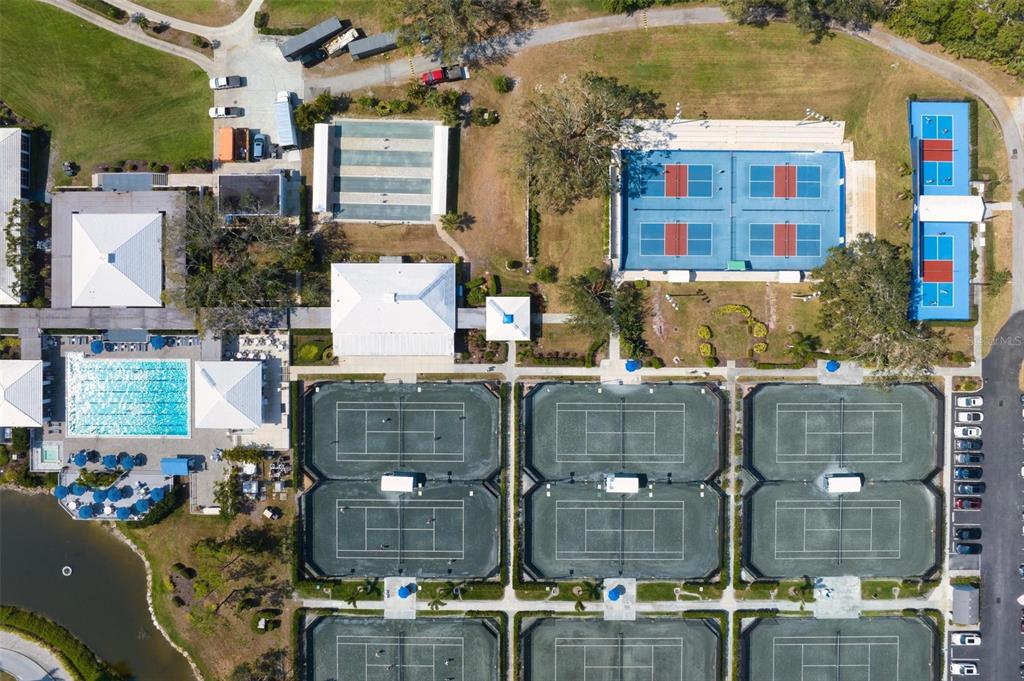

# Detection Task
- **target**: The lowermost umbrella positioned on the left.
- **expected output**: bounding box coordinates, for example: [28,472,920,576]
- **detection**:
[398,585,411,598]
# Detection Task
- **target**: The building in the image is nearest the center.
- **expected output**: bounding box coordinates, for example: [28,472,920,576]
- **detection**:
[486,296,531,342]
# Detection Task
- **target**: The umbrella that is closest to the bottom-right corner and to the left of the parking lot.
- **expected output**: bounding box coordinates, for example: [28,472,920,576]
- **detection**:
[825,360,838,373]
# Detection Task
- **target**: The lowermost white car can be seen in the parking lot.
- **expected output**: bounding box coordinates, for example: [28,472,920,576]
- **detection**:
[949,662,978,677]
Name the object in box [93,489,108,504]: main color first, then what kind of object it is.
blue umbrella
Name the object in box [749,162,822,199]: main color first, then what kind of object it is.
blue sports court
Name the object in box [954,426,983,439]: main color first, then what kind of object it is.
white vehicle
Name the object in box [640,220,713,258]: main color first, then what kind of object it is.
blue sports court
